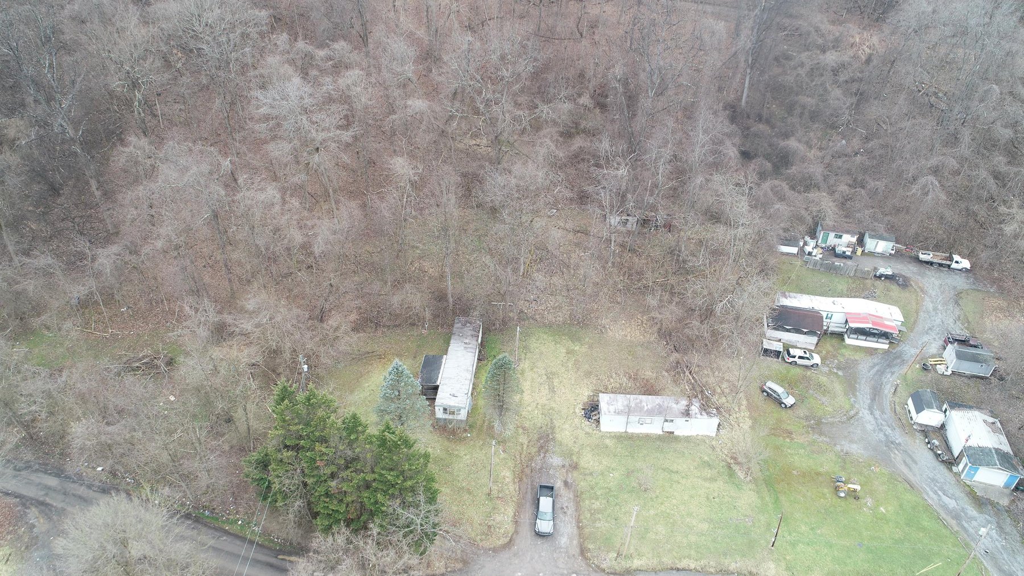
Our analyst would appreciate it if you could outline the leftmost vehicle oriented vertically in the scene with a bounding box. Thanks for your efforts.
[535,481,557,533]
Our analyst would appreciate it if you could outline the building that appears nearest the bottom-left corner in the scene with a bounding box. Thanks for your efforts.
[418,316,482,427]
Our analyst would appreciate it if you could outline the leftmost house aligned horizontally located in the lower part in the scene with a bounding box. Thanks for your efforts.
[600,393,721,436]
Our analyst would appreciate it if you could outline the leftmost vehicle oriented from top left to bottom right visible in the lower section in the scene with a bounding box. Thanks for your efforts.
[760,377,797,408]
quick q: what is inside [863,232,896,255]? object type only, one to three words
shed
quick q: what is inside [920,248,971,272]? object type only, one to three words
truck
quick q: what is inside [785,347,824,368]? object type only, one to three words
car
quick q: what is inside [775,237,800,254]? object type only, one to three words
shed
